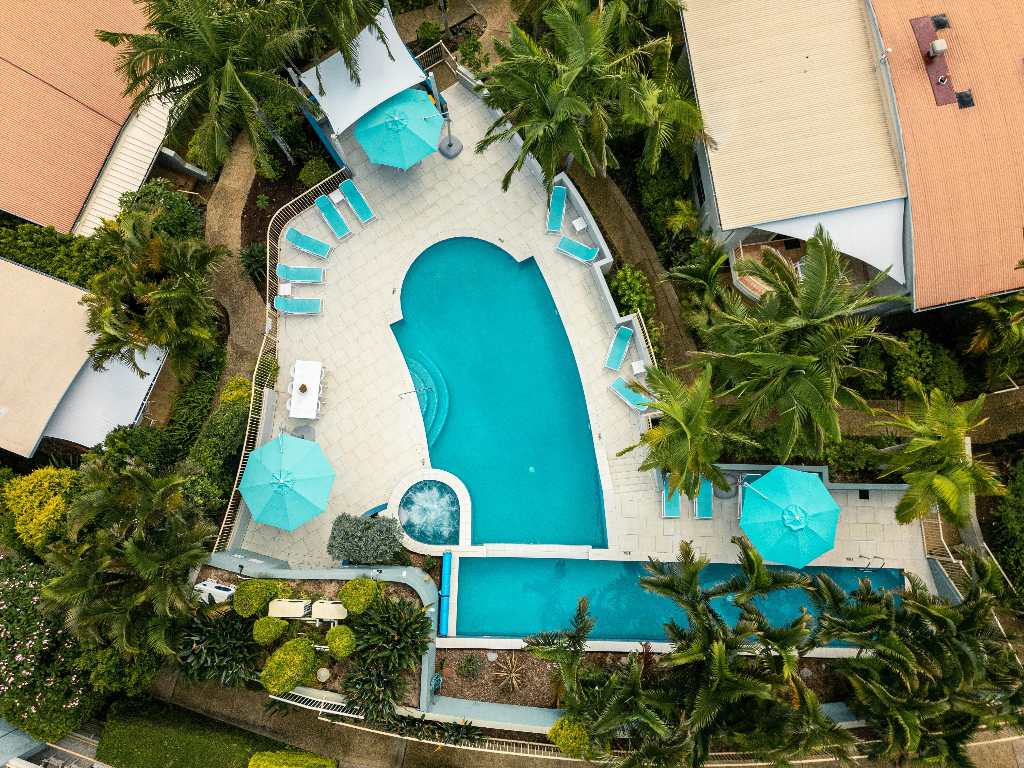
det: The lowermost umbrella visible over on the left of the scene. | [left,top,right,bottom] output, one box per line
[238,423,336,532]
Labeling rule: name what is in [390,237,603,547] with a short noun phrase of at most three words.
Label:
swimming pool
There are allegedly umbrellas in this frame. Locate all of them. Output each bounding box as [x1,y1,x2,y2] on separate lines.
[238,423,336,532]
[714,466,841,569]
[356,89,464,169]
